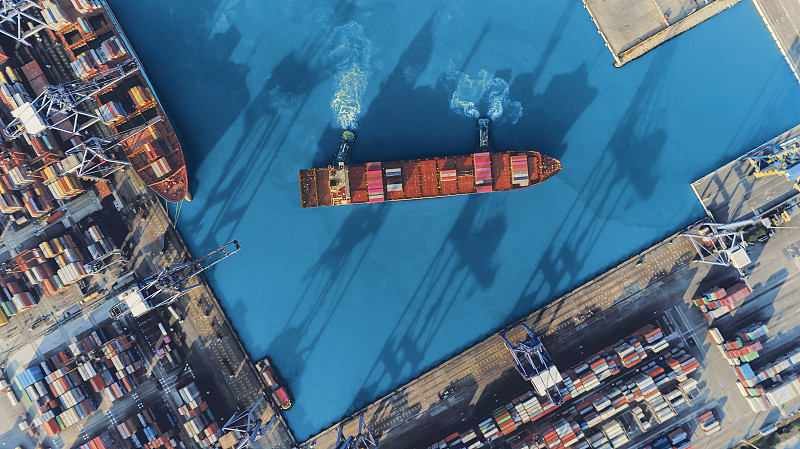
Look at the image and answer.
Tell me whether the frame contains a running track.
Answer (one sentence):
No, I find no running track anywhere in the image.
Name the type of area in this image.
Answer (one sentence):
This image shows a port.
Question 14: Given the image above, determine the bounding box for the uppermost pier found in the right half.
[583,0,712,57]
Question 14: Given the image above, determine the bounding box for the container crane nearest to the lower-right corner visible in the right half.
[677,210,773,280]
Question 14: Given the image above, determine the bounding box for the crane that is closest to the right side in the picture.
[743,138,800,187]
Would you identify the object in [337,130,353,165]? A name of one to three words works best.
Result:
boat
